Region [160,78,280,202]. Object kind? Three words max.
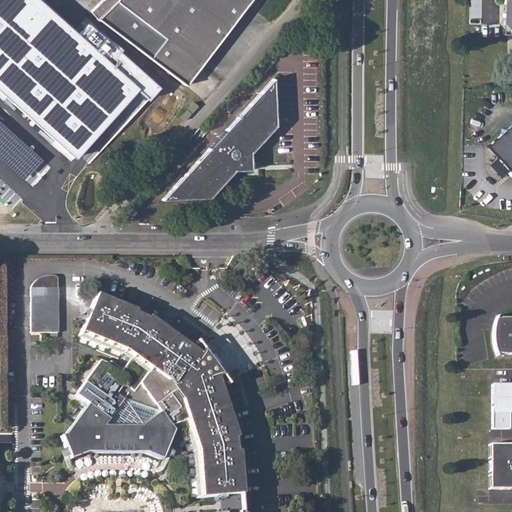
building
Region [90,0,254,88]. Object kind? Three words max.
building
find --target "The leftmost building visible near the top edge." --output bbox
[0,0,160,164]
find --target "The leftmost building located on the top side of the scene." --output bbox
[0,122,50,186]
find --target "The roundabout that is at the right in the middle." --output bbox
[322,196,423,296]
